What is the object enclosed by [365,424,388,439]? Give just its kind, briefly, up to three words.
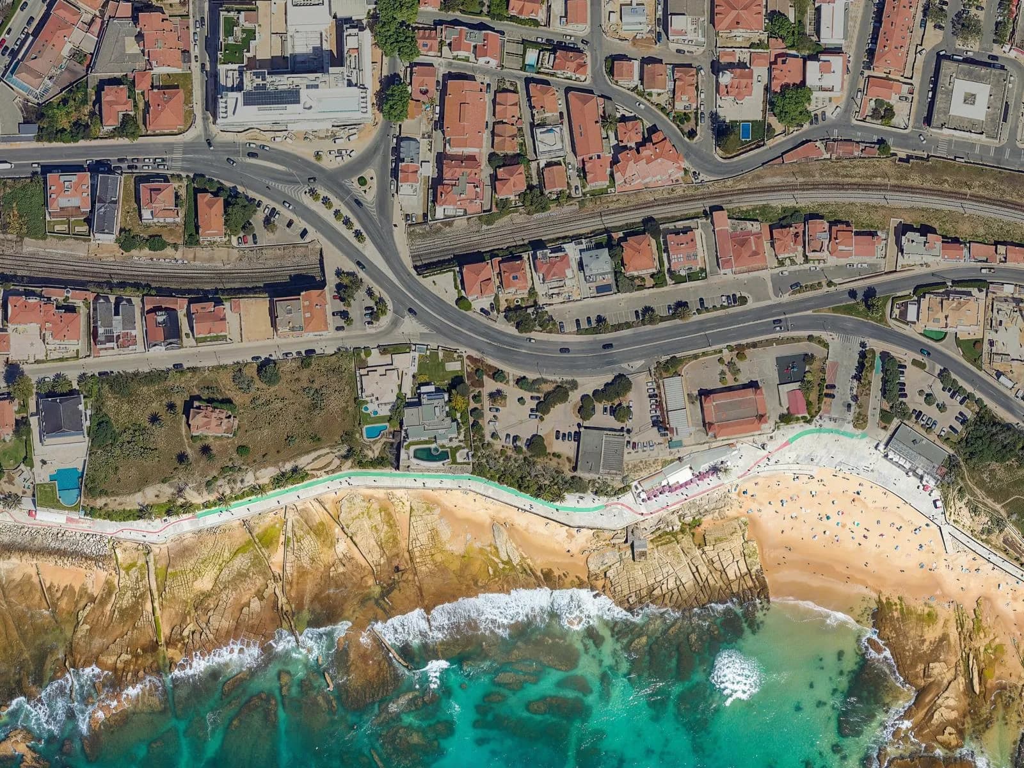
swimming pool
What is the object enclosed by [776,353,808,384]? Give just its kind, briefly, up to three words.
playground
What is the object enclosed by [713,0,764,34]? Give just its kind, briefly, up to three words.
house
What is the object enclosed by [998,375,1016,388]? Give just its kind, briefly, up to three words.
vehicle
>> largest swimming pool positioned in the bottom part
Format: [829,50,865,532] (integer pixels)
[49,467,83,507]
